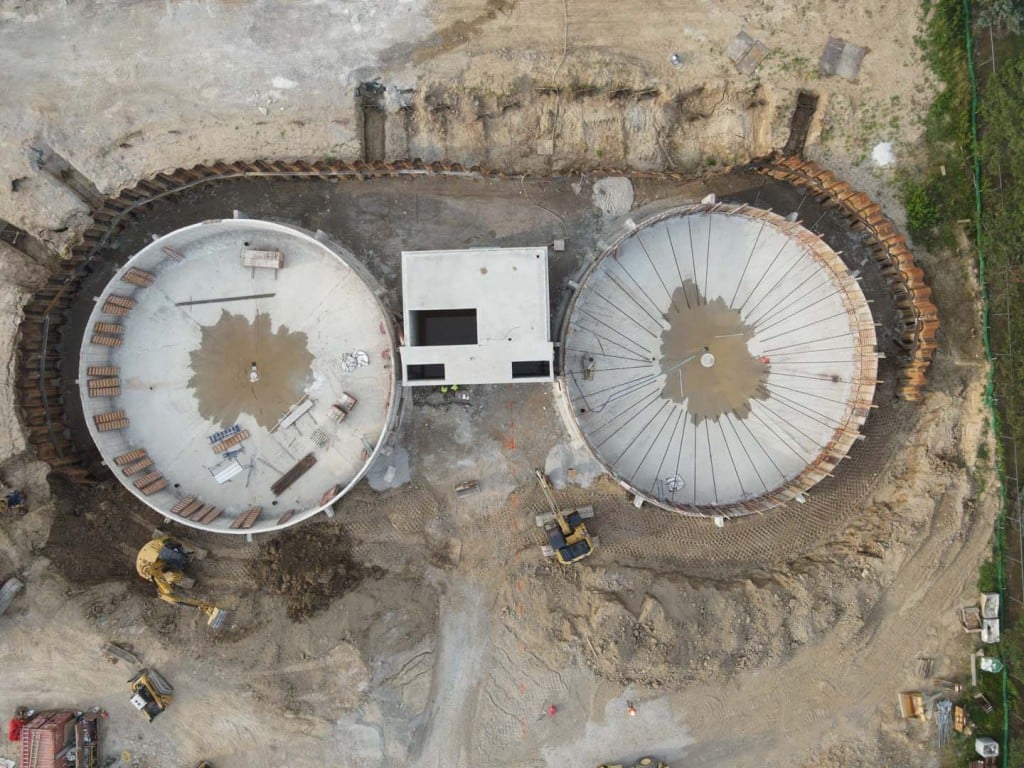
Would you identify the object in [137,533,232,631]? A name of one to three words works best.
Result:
work vehicle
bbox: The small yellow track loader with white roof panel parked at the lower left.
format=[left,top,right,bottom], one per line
[125,663,176,721]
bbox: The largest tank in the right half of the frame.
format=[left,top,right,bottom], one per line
[553,197,883,524]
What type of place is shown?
industrial area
